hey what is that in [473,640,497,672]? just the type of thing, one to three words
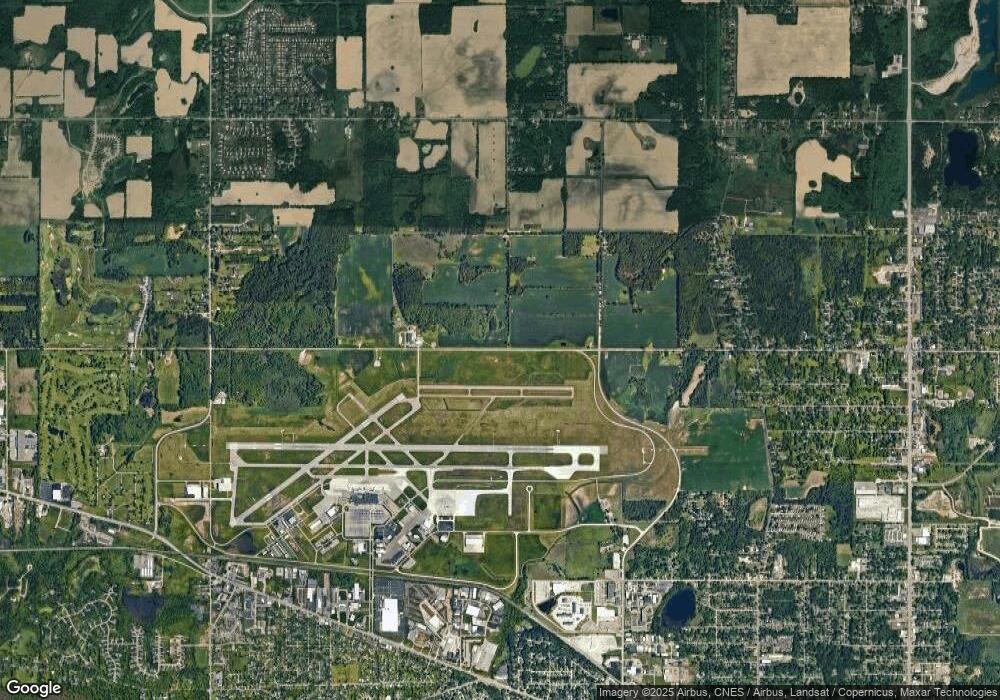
building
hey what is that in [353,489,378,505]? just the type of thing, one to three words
building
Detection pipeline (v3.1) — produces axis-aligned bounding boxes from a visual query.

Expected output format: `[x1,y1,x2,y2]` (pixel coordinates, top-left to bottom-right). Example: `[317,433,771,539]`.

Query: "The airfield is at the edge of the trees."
[226,386,608,565]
